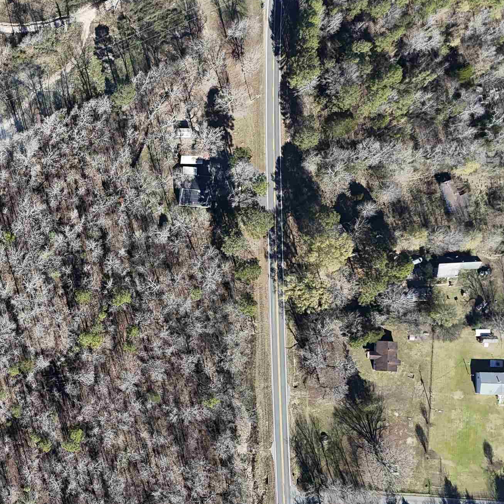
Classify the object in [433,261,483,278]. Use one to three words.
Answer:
house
